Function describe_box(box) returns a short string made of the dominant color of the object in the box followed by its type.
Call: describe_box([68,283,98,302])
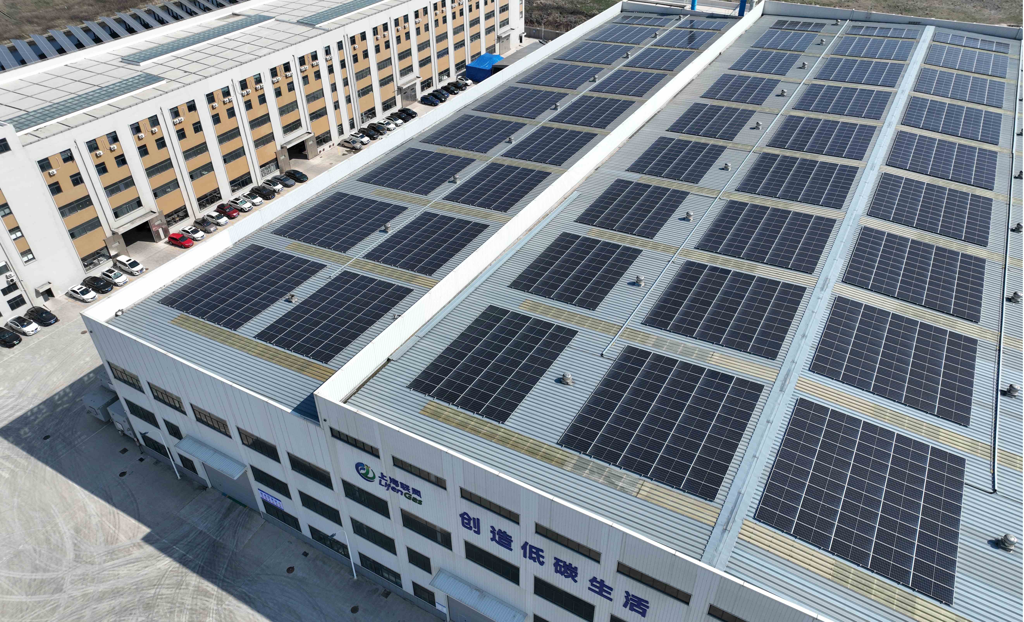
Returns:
white car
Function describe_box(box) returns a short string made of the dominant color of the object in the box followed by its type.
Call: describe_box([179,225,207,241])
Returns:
white car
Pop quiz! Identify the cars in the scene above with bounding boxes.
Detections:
[214,202,240,219]
[284,170,309,183]
[10,314,42,335]
[419,94,439,106]
[262,179,285,193]
[116,254,146,275]
[391,112,412,123]
[169,233,194,250]
[428,92,447,102]
[68,283,98,302]
[440,85,459,95]
[250,186,276,200]
[397,108,418,118]
[27,307,58,327]
[85,276,114,294]
[339,138,361,150]
[203,210,230,226]
[0,326,22,347]
[239,191,265,206]
[228,196,254,213]
[191,216,218,232]
[447,81,467,90]
[348,131,370,144]
[454,75,473,86]
[271,174,297,188]
[376,120,396,132]
[179,225,207,241]
[102,268,129,287]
